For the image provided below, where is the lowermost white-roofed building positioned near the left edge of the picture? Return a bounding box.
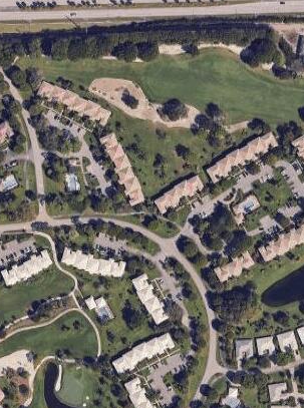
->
[2,250,54,285]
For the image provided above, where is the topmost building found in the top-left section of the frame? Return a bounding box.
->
[36,80,111,125]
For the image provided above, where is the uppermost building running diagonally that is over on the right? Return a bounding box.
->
[208,131,278,181]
